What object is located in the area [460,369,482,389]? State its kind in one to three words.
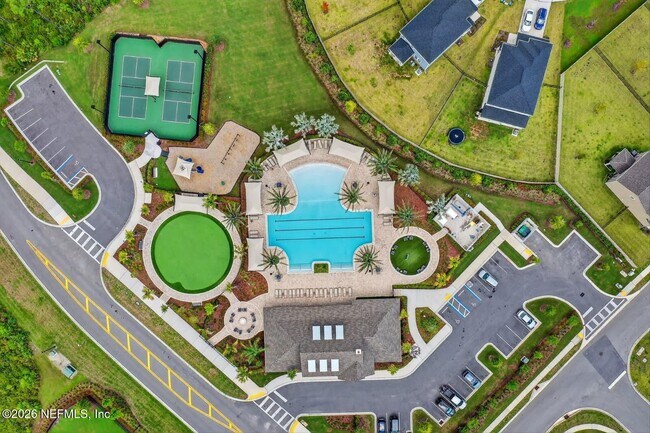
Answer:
car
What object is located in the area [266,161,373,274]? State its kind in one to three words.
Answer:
swimming pool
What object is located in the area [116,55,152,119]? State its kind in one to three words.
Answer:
sports court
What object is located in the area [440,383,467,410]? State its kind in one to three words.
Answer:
truck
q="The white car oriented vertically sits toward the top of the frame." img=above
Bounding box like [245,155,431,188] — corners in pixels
[521,8,534,32]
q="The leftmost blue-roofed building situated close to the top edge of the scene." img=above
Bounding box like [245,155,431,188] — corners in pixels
[388,0,478,68]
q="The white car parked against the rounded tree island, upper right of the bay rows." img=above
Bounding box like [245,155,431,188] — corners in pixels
[515,309,537,329]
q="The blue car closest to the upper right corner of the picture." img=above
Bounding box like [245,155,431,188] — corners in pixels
[534,6,548,31]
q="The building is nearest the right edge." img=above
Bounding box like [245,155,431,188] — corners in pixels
[600,145,650,227]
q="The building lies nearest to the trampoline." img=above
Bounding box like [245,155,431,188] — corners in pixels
[475,33,553,130]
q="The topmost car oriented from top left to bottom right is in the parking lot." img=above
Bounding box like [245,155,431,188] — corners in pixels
[477,269,500,289]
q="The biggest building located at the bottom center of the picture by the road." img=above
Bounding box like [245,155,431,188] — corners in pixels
[263,298,402,382]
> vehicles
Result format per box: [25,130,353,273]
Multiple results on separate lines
[440,383,467,410]
[477,269,500,289]
[377,416,387,433]
[521,8,534,32]
[515,309,537,329]
[460,369,482,389]
[389,414,400,433]
[434,395,456,416]
[534,6,548,31]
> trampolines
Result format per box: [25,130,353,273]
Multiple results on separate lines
[448,128,465,145]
